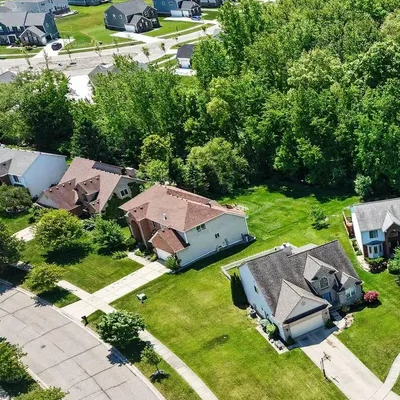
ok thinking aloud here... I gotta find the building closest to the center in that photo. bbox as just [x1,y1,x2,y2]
[123,183,245,268]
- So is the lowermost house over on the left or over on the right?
right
